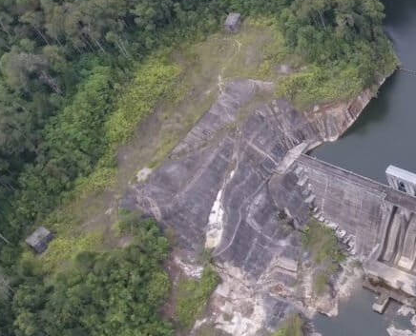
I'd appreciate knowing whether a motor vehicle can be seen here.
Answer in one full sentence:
No, I find no motor vehicle anywhere in the image.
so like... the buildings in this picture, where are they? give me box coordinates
[219,15,242,36]
[20,230,51,259]
[384,162,416,194]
